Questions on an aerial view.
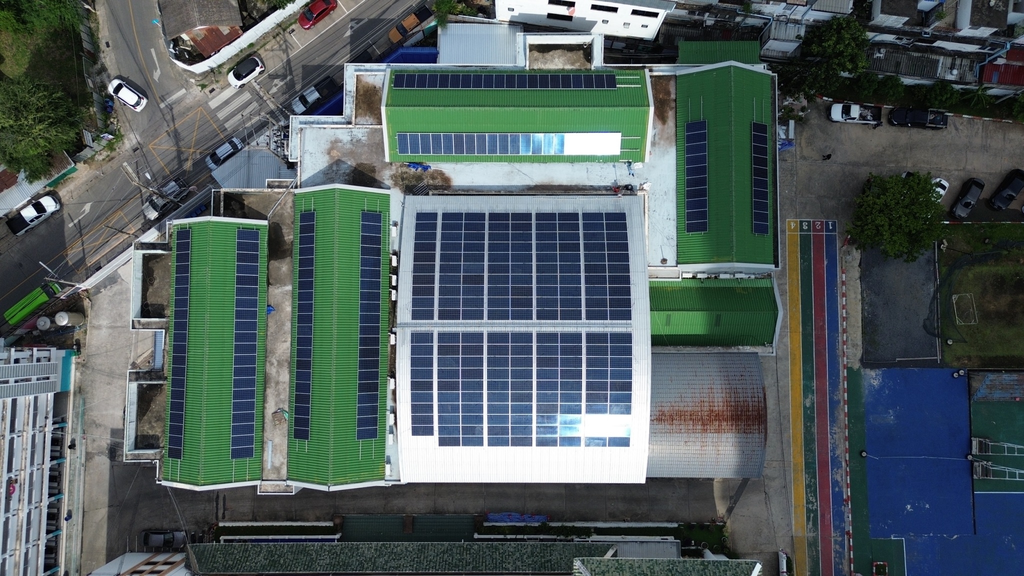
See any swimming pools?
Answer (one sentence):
No, this view has no swimming pool in it.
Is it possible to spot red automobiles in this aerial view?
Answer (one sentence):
Yes, the photo shows a red automobile.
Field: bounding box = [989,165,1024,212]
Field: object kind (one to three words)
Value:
car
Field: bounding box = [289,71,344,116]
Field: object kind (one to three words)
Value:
truck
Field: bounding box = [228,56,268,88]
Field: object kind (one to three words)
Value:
car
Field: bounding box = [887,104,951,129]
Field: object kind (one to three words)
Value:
truck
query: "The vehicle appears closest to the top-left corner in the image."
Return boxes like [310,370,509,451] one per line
[107,80,150,113]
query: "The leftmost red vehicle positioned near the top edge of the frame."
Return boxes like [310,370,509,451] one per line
[298,0,341,32]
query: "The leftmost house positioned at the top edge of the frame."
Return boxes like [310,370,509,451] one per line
[163,0,248,64]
